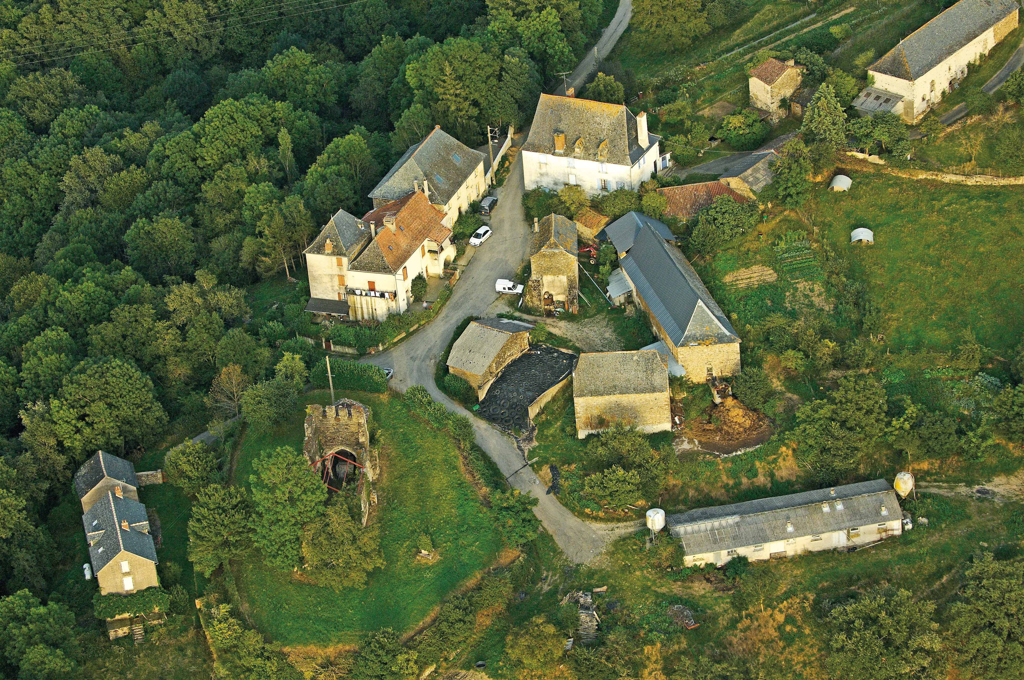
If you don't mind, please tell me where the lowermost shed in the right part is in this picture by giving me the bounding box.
[671,478,903,571]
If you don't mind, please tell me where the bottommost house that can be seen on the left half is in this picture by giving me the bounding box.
[86,483,161,602]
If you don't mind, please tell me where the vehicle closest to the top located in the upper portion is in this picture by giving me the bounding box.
[478,197,499,215]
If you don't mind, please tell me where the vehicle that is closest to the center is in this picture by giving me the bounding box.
[495,277,526,295]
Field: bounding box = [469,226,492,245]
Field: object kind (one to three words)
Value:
car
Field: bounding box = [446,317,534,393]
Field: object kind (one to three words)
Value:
barn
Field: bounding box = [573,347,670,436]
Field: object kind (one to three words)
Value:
barn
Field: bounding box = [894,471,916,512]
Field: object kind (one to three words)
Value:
silo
